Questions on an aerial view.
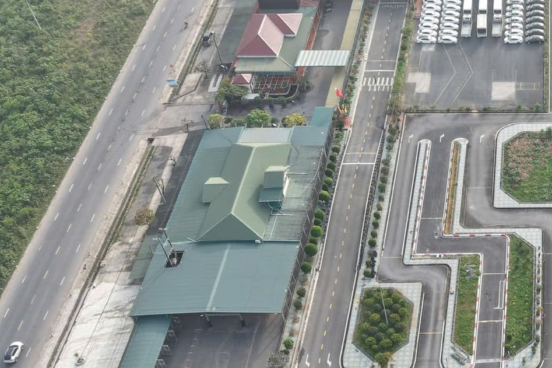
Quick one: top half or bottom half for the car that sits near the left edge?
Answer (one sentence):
Seen from above, the car that sits near the left edge lies in the bottom half of the view.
